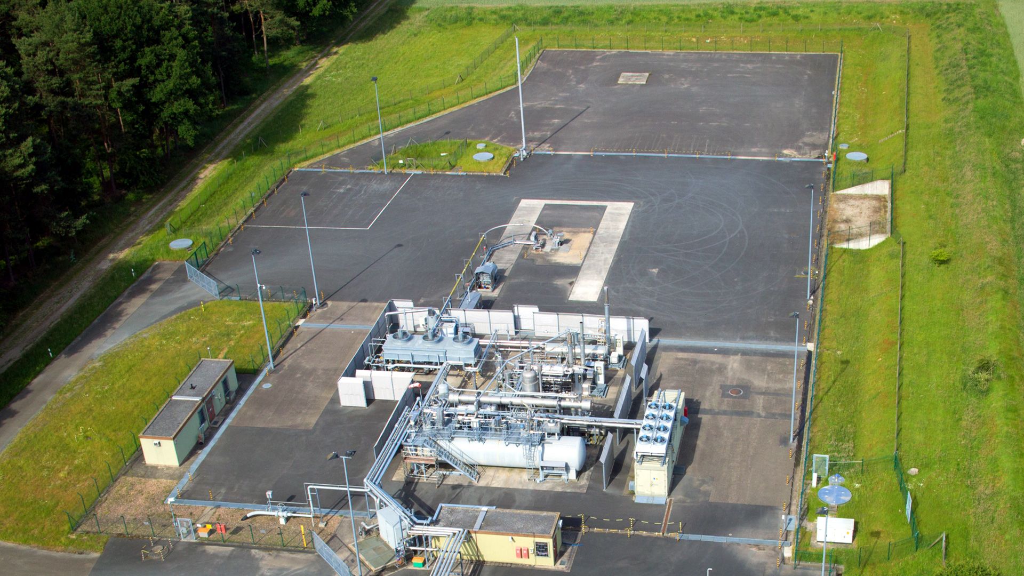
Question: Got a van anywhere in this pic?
No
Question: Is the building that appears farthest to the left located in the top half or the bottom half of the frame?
bottom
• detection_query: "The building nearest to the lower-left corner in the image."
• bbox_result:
[135,360,238,467]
